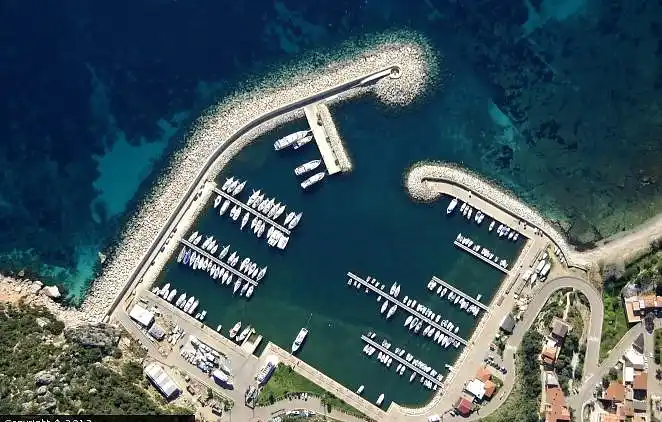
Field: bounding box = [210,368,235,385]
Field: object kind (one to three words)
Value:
boat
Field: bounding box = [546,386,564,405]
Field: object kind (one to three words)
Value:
house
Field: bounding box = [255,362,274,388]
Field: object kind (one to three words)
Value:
boat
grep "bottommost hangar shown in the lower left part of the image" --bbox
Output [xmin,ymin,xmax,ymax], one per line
[145,363,180,397]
